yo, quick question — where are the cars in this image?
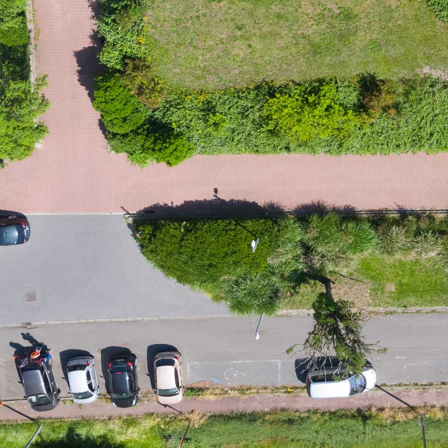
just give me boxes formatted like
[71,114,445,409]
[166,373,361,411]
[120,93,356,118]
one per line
[0,214,28,249]
[149,350,183,409]
[13,351,56,415]
[61,352,98,411]
[304,357,375,398]
[102,354,138,415]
